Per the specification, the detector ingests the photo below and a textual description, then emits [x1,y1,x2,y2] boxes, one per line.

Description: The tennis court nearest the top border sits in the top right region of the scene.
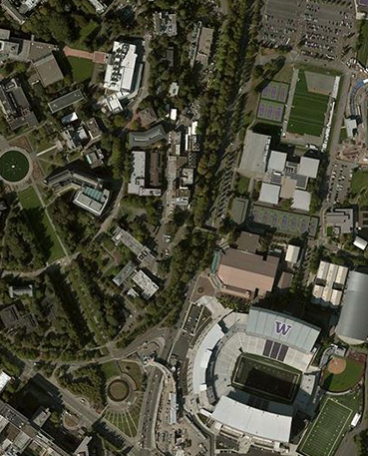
[261,81,289,103]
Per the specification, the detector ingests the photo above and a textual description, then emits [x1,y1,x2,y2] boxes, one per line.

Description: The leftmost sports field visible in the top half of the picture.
[286,69,337,136]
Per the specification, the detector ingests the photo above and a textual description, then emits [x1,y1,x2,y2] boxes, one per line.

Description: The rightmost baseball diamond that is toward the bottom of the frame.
[329,353,367,393]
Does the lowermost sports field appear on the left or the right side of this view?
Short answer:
right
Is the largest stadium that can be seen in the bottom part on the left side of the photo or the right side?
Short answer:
right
